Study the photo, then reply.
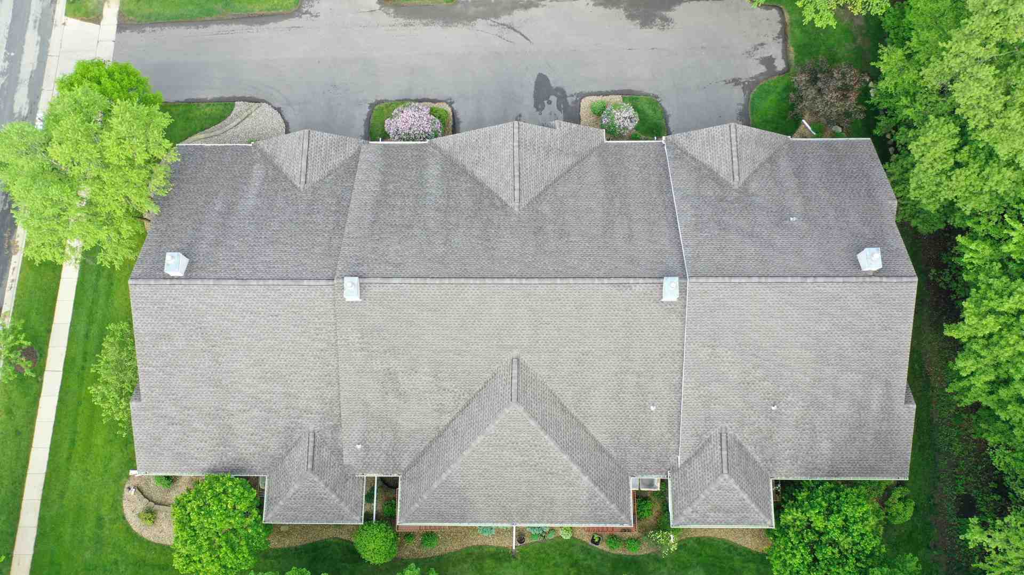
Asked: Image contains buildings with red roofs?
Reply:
No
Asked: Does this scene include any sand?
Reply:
No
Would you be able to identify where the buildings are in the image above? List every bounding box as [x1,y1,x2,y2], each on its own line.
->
[129,119,918,553]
